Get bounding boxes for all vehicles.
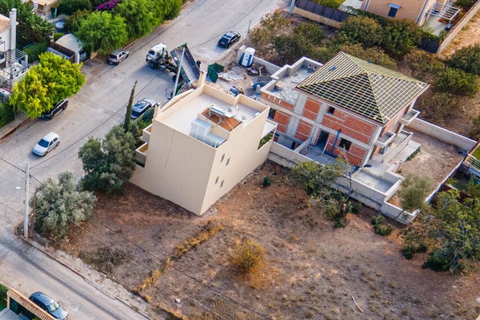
[31,130,63,156]
[24,284,73,320]
[104,50,131,67]
[151,34,203,86]
[38,94,72,120]
[133,94,160,114]
[216,31,243,49]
